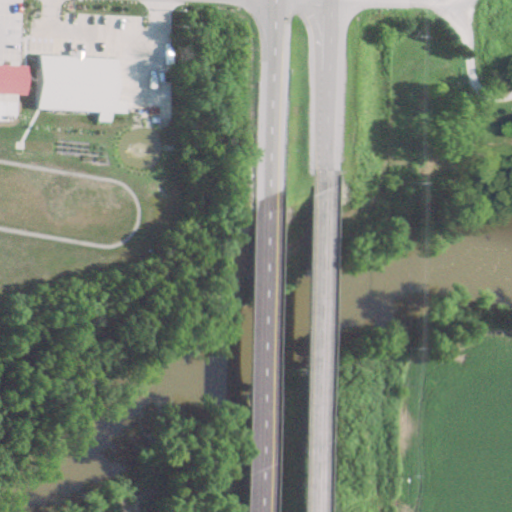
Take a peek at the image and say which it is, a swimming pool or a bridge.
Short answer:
bridge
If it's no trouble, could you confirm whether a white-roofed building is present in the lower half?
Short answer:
No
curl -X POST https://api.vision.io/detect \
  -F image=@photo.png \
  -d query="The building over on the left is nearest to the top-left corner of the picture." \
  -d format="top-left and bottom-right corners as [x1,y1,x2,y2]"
[0,66,31,95]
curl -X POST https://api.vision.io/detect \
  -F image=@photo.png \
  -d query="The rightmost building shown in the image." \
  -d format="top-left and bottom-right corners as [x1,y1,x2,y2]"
[38,56,127,122]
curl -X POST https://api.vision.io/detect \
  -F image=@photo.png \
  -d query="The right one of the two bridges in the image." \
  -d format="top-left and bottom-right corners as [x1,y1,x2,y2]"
[308,174,341,512]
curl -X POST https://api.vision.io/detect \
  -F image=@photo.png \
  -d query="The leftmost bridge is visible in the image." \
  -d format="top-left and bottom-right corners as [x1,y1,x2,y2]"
[250,192,288,512]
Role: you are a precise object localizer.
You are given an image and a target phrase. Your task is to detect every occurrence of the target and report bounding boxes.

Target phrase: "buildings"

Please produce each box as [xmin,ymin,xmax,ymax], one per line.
[38,56,127,122]
[0,96,20,122]
[0,66,31,95]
